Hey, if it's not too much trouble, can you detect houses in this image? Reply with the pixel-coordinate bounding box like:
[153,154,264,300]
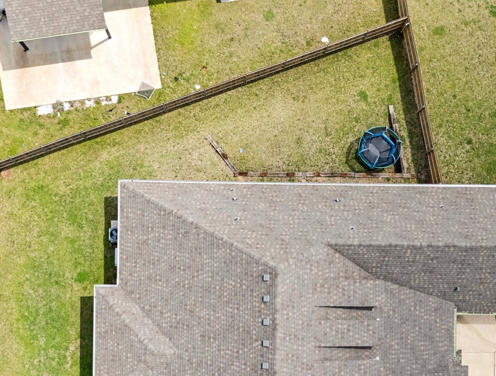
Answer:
[3,0,112,53]
[91,177,496,376]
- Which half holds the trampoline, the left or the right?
right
